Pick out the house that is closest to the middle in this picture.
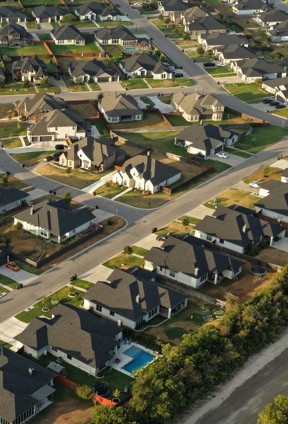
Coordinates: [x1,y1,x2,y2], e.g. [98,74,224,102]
[112,158,179,200]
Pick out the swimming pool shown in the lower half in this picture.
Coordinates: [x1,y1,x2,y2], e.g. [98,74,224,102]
[111,340,160,377]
